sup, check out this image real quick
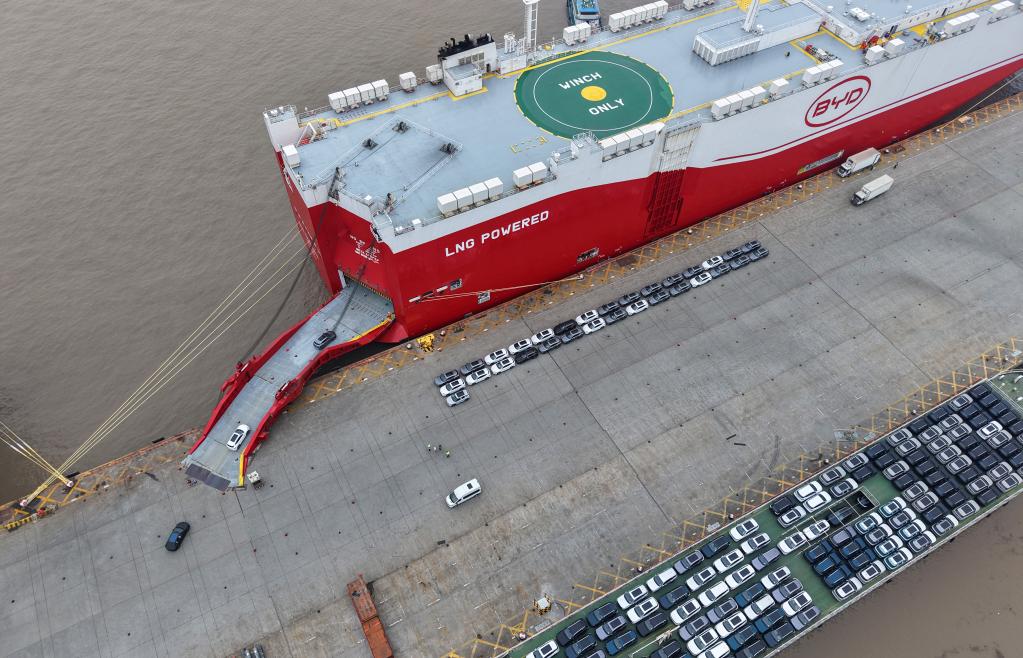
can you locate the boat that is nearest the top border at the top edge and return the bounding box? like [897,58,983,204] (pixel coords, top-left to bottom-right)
[565,0,602,35]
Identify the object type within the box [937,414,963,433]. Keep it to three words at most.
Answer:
car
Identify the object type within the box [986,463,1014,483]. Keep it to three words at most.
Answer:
car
